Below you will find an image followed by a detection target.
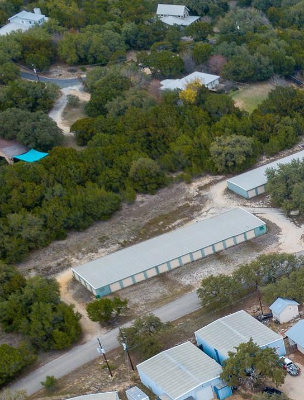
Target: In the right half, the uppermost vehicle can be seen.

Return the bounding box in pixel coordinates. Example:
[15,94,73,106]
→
[279,358,302,375]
